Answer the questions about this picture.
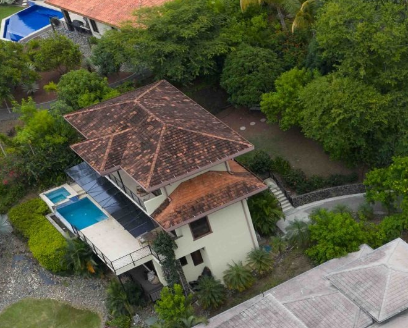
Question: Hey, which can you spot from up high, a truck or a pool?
pool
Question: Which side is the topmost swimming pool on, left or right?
left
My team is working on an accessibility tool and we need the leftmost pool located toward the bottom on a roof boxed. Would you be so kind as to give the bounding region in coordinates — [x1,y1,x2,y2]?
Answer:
[43,188,80,213]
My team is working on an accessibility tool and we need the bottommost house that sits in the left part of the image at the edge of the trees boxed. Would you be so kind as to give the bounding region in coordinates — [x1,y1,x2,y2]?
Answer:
[37,78,269,280]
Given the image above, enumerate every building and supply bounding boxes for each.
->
[0,0,190,52]
[37,78,269,280]
[189,236,408,328]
